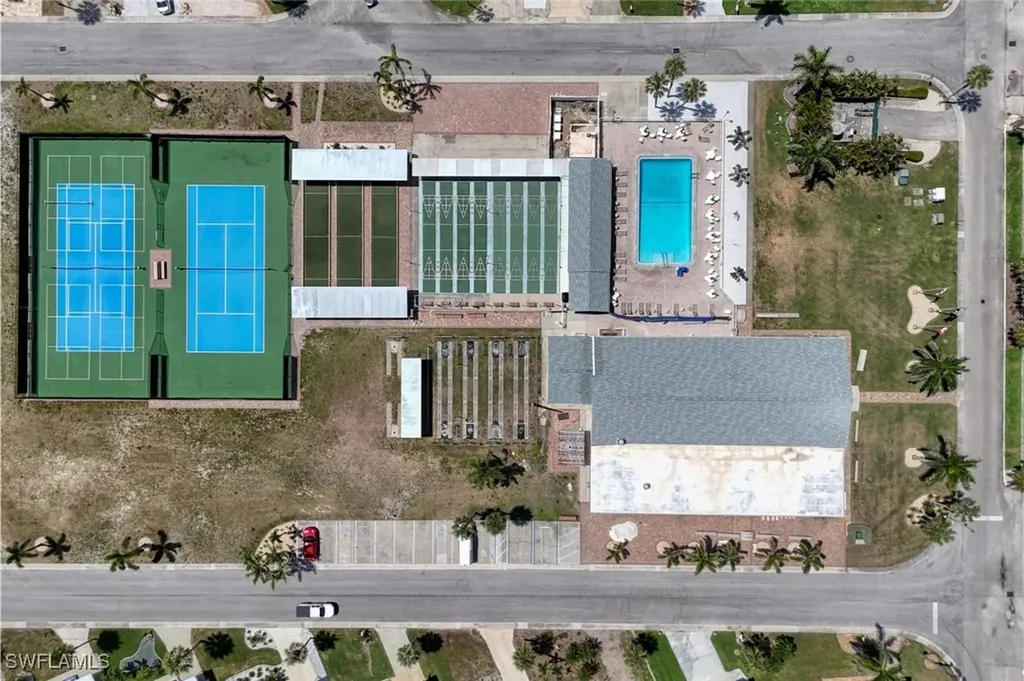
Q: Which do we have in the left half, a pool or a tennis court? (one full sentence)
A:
The feature located in the left half is a tennis court.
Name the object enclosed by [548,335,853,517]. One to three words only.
building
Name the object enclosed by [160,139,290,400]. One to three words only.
tennis court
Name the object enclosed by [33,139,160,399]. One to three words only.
tennis court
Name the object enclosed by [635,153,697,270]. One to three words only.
swimming pool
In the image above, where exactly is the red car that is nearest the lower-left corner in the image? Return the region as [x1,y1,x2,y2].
[301,526,319,561]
